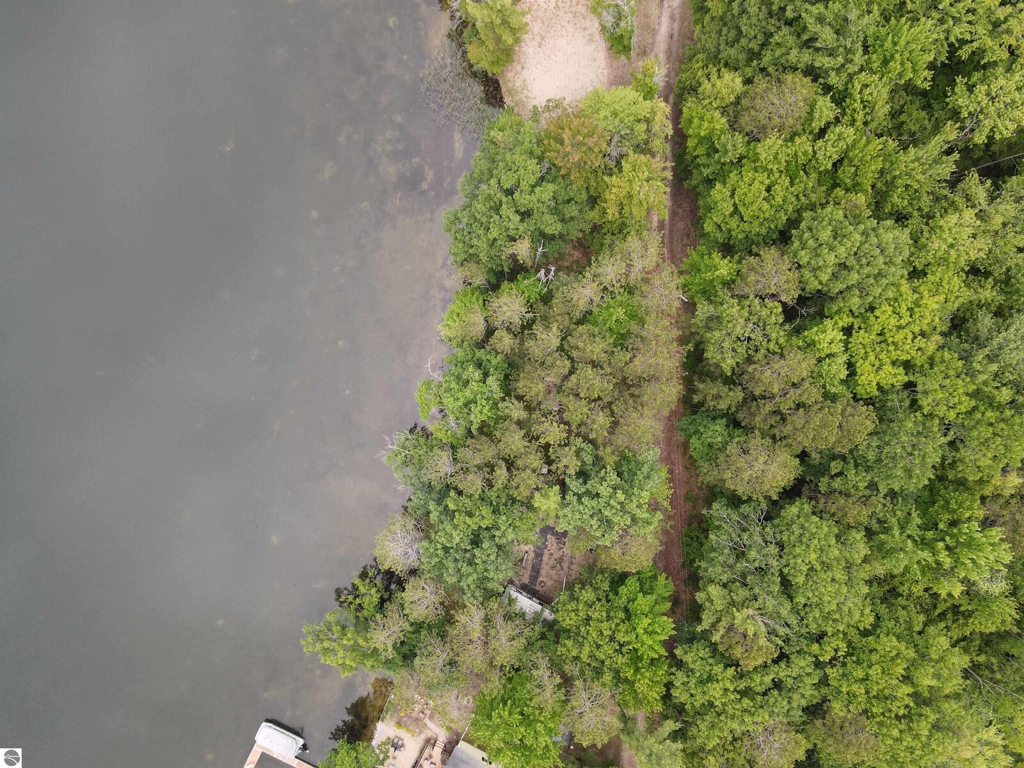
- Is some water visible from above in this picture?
Yes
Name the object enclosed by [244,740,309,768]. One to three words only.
pier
